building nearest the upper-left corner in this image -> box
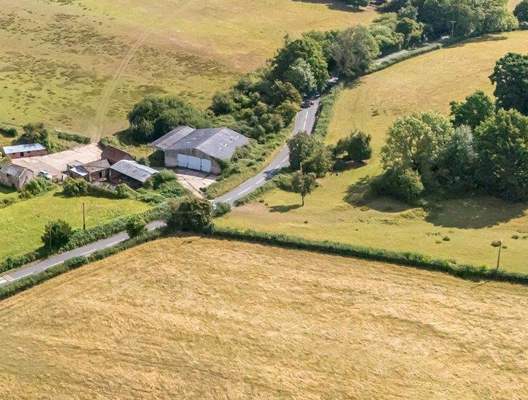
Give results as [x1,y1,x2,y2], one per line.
[2,138,50,160]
